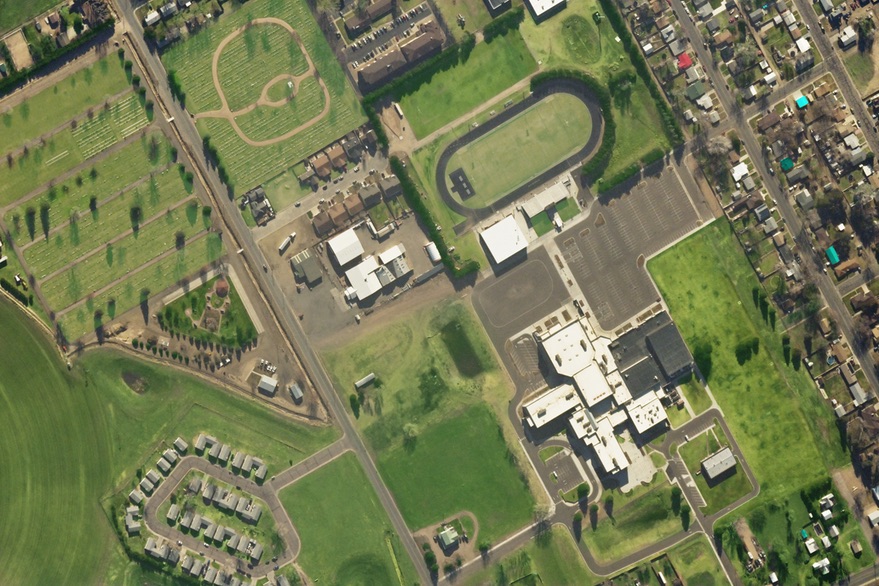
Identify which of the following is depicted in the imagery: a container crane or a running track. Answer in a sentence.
This aerial view contains a running track.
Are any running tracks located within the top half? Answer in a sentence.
Yes, a running track shows up within the top half.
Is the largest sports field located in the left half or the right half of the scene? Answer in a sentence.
You can find the largest sports field on the right side of the picture.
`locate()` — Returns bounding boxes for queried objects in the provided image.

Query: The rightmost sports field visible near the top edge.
[563,16,601,63]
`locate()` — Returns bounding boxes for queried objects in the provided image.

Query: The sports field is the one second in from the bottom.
[446,94,591,207]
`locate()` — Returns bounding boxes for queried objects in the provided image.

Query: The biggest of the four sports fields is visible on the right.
[646,219,838,500]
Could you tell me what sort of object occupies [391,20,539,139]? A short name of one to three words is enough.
sports field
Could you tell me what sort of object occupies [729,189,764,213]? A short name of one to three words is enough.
house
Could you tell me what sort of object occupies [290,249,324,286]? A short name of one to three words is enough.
building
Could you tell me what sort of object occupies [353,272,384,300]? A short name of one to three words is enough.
building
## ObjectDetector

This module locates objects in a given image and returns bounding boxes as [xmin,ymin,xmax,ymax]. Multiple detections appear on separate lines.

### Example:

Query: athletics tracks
[436,85,601,216]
